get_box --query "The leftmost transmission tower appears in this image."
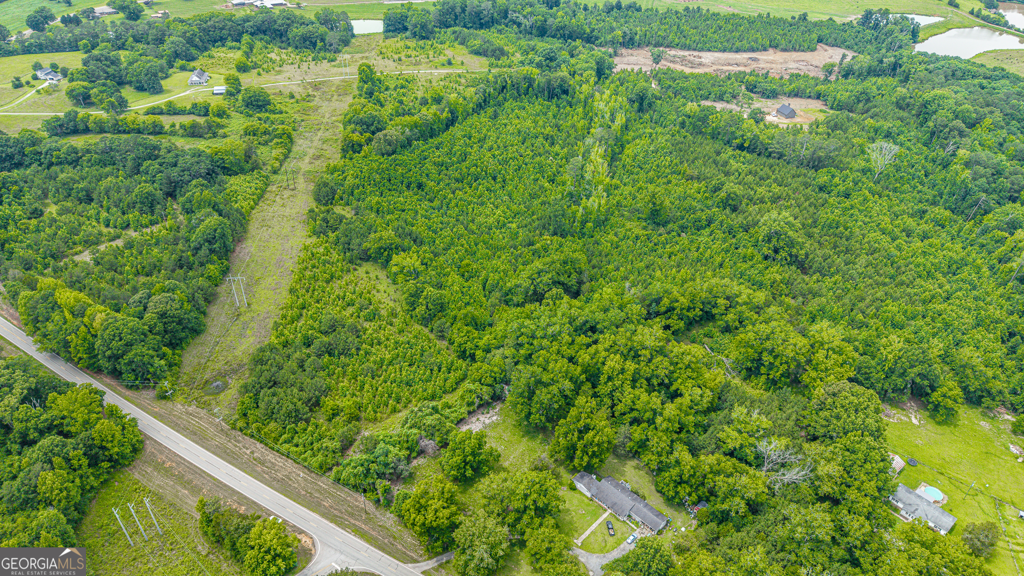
[225,274,247,306]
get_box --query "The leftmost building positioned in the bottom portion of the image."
[572,471,668,535]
